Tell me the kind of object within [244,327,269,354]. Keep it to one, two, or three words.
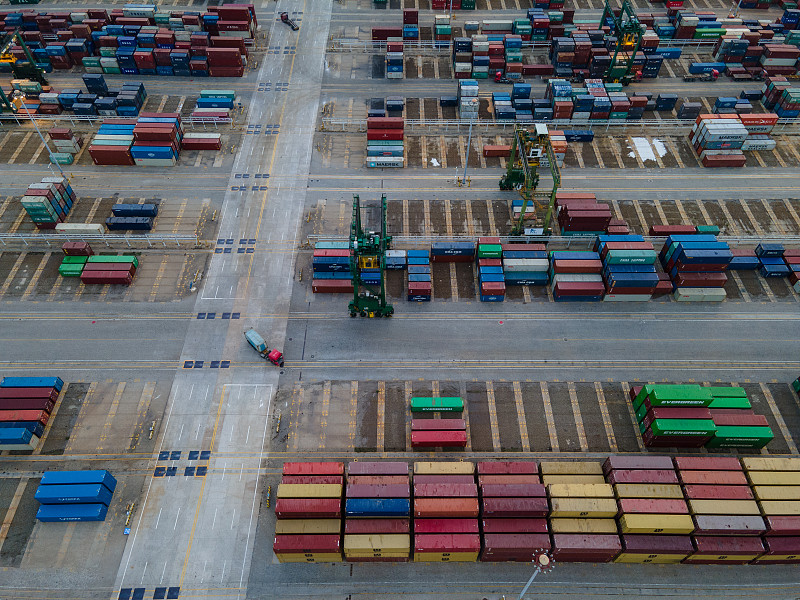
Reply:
shipping container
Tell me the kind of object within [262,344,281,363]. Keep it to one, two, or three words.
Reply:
vehicle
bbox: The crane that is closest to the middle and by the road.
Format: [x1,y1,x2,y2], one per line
[347,191,398,319]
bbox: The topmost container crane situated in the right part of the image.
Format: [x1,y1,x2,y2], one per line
[597,0,647,84]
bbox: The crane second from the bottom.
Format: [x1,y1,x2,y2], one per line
[502,123,564,239]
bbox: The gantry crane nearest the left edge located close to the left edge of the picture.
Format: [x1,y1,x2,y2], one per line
[0,30,48,126]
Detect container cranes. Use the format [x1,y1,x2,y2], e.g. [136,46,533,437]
[0,30,48,126]
[502,123,564,239]
[597,0,647,84]
[347,191,398,319]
